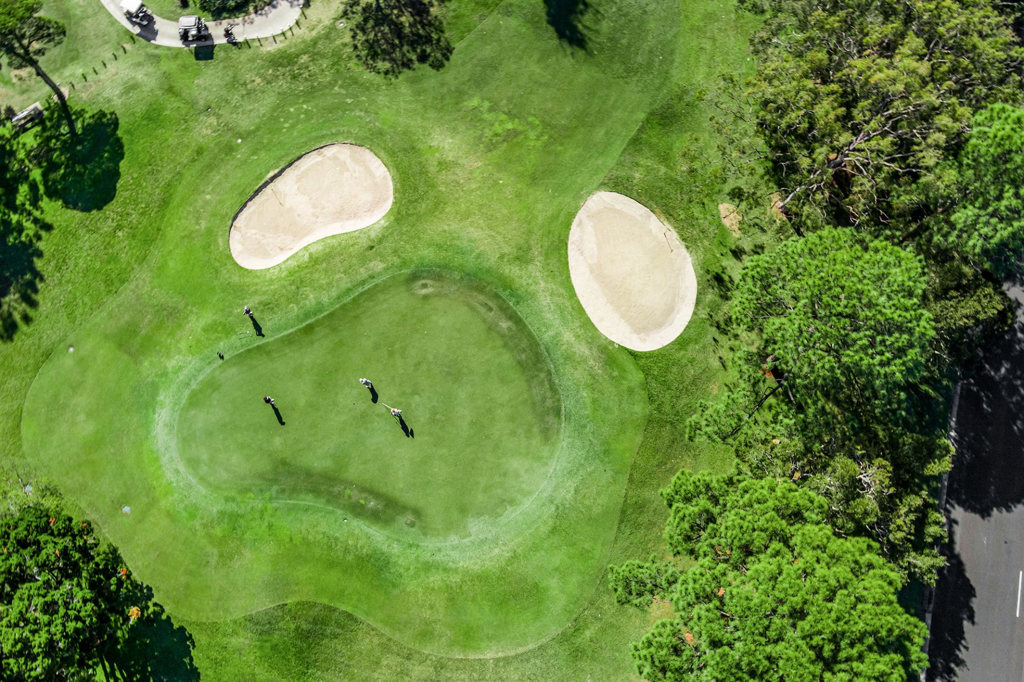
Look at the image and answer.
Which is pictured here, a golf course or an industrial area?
golf course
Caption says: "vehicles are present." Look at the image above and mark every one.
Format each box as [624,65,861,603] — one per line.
[120,0,155,26]
[177,16,211,41]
